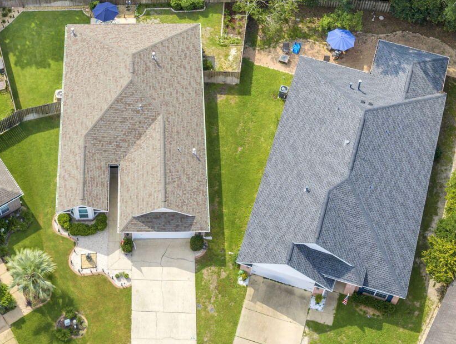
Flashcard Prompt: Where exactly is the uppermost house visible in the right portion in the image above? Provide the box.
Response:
[237,39,450,302]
